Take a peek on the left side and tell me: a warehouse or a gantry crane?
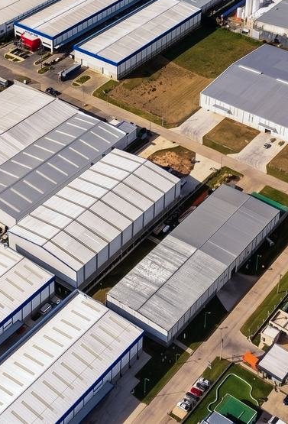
warehouse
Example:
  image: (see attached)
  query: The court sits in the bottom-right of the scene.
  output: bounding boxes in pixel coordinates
[208,373,258,424]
